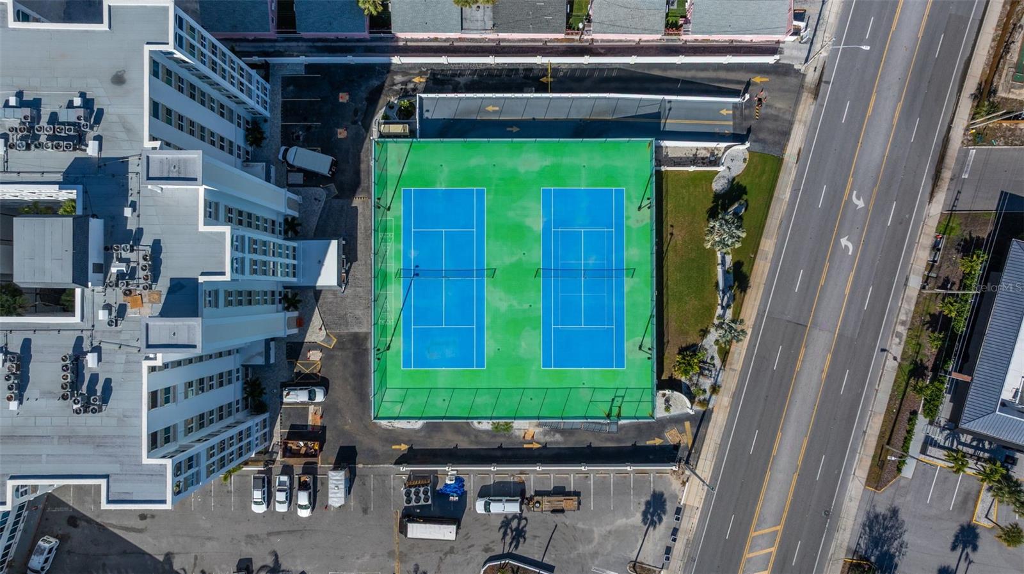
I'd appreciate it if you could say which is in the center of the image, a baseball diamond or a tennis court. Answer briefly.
tennis court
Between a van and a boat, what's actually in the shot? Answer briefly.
van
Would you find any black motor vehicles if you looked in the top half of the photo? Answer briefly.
No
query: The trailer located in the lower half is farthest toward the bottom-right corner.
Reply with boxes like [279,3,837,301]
[526,493,580,515]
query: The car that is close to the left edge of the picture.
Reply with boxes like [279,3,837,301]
[31,536,60,573]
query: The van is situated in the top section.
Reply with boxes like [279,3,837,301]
[285,145,344,178]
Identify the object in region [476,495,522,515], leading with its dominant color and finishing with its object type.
white vehicle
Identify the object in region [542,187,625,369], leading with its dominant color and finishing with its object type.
blue tennis court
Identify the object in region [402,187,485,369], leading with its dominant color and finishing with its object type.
blue tennis court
